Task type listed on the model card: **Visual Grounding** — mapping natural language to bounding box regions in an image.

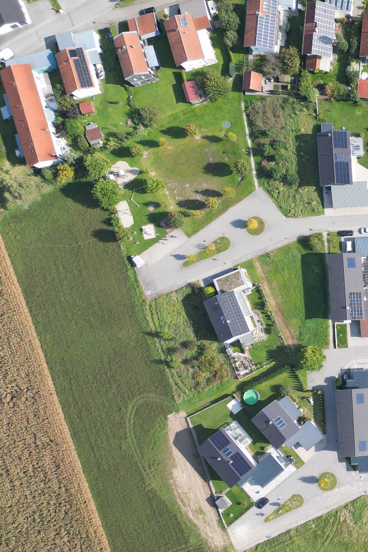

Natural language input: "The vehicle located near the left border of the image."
[0,48,16,64]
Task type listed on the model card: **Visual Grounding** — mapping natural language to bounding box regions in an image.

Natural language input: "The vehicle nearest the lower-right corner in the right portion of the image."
[255,496,271,509]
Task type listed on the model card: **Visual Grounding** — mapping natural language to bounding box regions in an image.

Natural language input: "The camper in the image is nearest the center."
[133,254,147,268]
